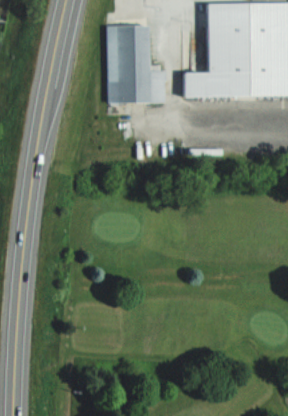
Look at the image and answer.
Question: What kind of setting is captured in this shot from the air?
golf course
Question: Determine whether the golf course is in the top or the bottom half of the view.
bottom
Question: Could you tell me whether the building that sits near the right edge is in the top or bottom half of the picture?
top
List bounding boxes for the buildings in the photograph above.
[184,0,288,98]
[107,26,164,102]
